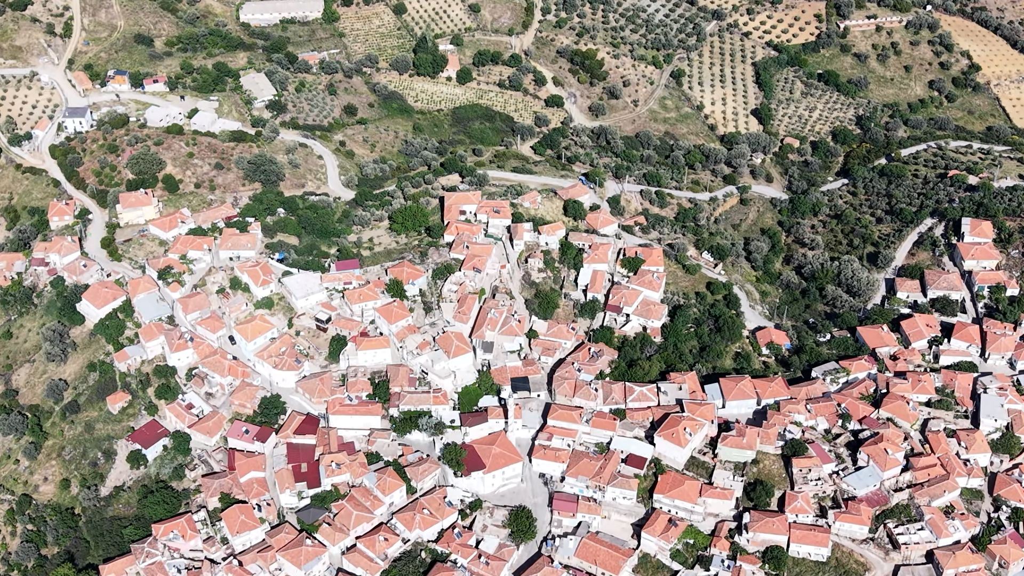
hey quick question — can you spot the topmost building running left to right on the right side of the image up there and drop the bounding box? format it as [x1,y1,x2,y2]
[838,16,903,32]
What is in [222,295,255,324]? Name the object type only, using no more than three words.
shed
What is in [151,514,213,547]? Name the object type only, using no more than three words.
house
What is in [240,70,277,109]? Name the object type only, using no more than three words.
barn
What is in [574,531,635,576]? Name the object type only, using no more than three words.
building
